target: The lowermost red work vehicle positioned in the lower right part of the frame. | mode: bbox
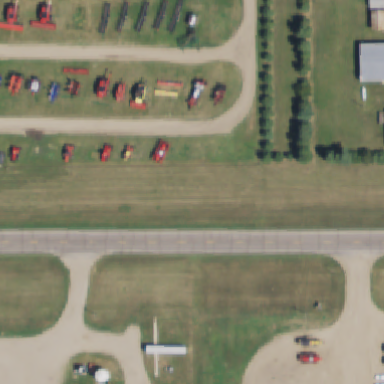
[298,353,320,366]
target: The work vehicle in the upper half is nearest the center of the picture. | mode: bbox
[152,142,170,163]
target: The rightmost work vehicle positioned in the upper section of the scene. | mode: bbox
[213,86,226,104]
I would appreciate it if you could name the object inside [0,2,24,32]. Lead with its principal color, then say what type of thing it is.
red work vehicle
